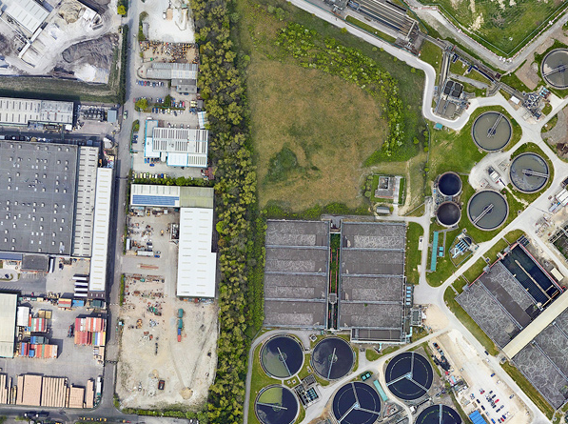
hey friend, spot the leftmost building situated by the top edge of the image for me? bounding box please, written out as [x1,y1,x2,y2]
[6,0,50,36]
